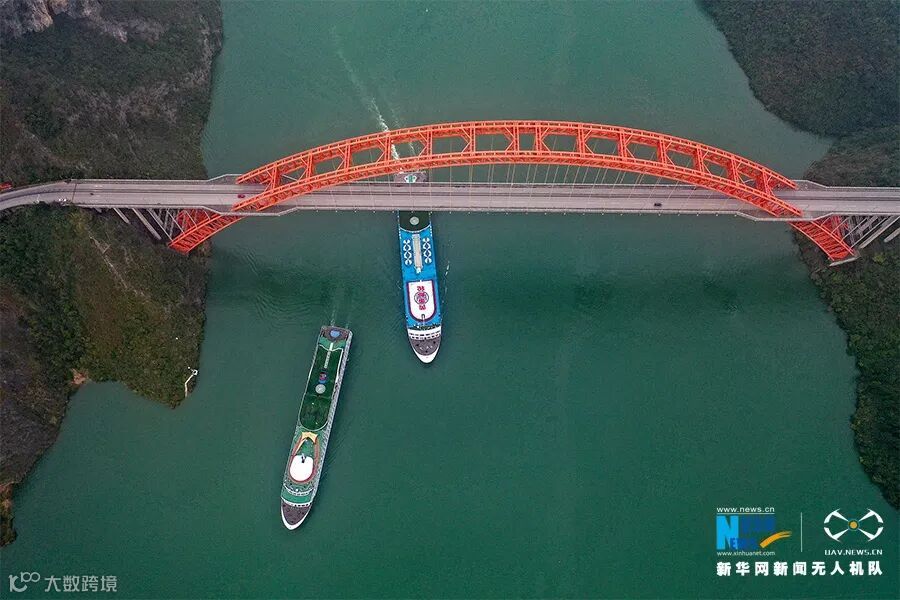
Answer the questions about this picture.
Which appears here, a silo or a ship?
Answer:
ship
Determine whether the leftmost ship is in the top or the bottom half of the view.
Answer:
bottom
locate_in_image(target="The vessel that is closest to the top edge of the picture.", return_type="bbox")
[398,210,440,363]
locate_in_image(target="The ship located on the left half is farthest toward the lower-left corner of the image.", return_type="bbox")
[283,327,352,530]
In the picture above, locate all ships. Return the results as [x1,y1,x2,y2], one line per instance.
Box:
[398,210,440,363]
[283,327,352,530]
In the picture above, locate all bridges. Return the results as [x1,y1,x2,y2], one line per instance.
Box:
[72,120,900,264]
